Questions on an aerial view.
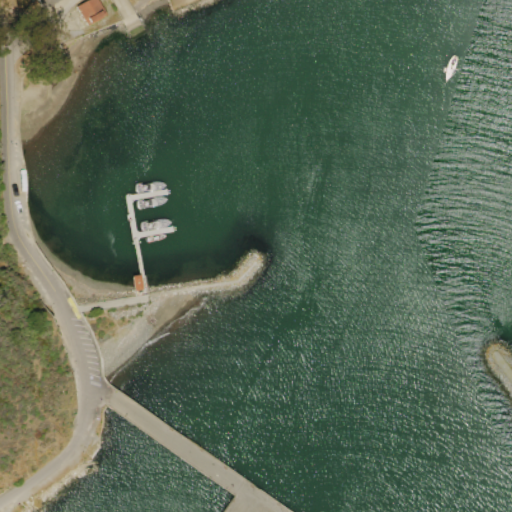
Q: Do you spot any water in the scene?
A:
Yes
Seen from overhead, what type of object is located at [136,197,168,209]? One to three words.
boat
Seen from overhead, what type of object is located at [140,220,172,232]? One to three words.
boat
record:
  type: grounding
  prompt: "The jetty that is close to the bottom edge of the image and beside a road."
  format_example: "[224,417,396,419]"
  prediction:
[107,386,296,512]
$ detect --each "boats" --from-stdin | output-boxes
[140,220,172,232]
[446,56,457,82]
[135,182,167,192]
[136,197,168,209]
[146,234,166,243]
